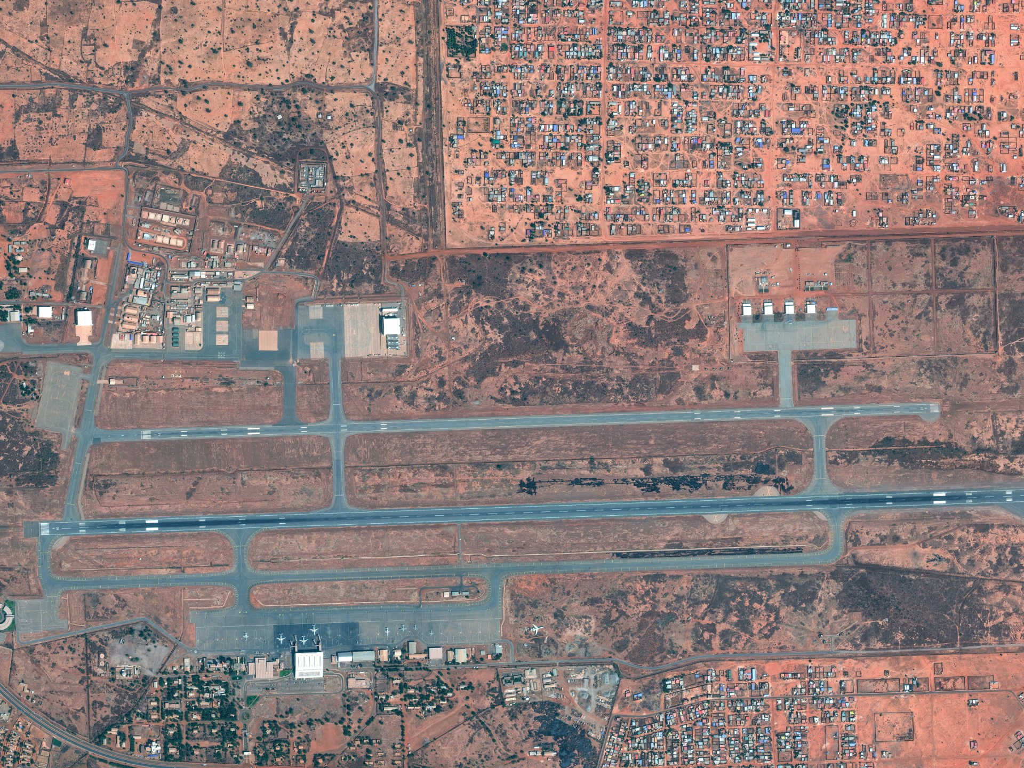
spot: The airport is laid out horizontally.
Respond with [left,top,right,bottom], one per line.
[0,246,1024,652]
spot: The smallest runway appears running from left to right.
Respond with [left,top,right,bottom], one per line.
[100,402,939,442]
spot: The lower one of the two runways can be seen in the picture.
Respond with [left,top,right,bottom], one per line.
[39,487,1024,537]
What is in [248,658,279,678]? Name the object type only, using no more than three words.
building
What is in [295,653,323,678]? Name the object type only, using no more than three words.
building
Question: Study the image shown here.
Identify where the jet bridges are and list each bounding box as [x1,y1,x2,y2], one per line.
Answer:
[289,635,297,652]
[313,634,321,652]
